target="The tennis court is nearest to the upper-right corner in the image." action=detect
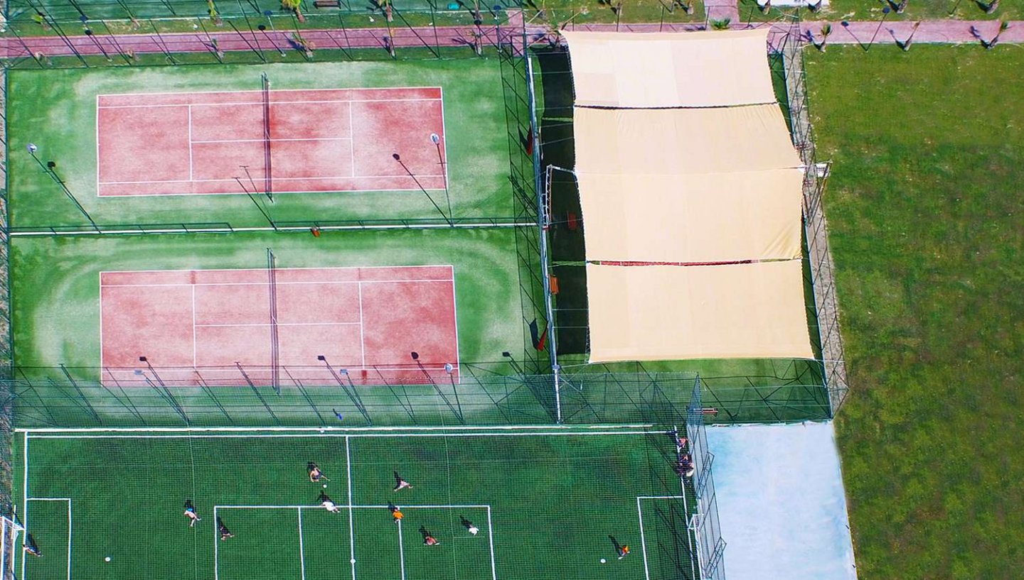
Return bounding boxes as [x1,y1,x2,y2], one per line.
[534,50,830,424]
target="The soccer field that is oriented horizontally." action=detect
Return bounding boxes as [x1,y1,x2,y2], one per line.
[10,425,702,580]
